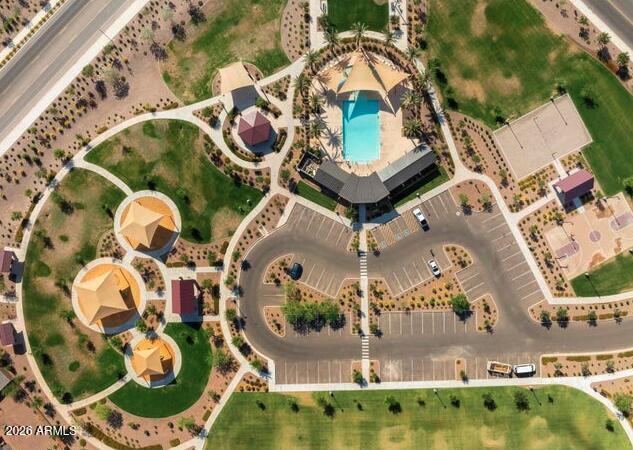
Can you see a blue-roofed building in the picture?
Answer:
No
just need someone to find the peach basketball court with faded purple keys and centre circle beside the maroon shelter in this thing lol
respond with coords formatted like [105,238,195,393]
[545,193,633,279]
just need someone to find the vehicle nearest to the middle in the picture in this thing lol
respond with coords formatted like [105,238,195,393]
[289,261,304,282]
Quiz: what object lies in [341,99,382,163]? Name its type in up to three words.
swimming pool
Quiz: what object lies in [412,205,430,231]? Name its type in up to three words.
vehicle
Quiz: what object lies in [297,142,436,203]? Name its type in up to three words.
building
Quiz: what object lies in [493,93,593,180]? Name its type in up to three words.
sports court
